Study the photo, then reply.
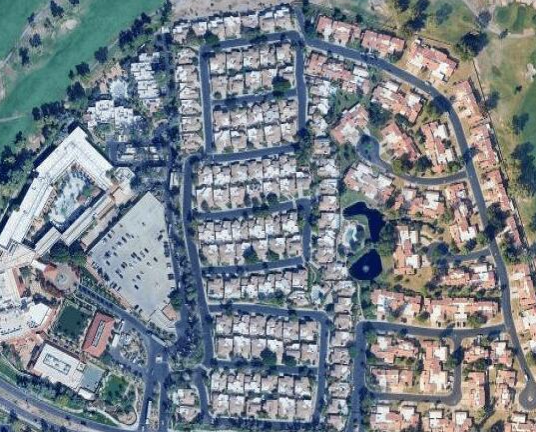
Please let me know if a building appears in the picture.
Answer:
Yes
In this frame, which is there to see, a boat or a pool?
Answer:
pool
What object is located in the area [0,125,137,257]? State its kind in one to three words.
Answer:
building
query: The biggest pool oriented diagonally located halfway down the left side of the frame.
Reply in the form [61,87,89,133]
[40,164,95,227]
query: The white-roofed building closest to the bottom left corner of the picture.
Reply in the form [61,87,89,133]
[31,343,94,406]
